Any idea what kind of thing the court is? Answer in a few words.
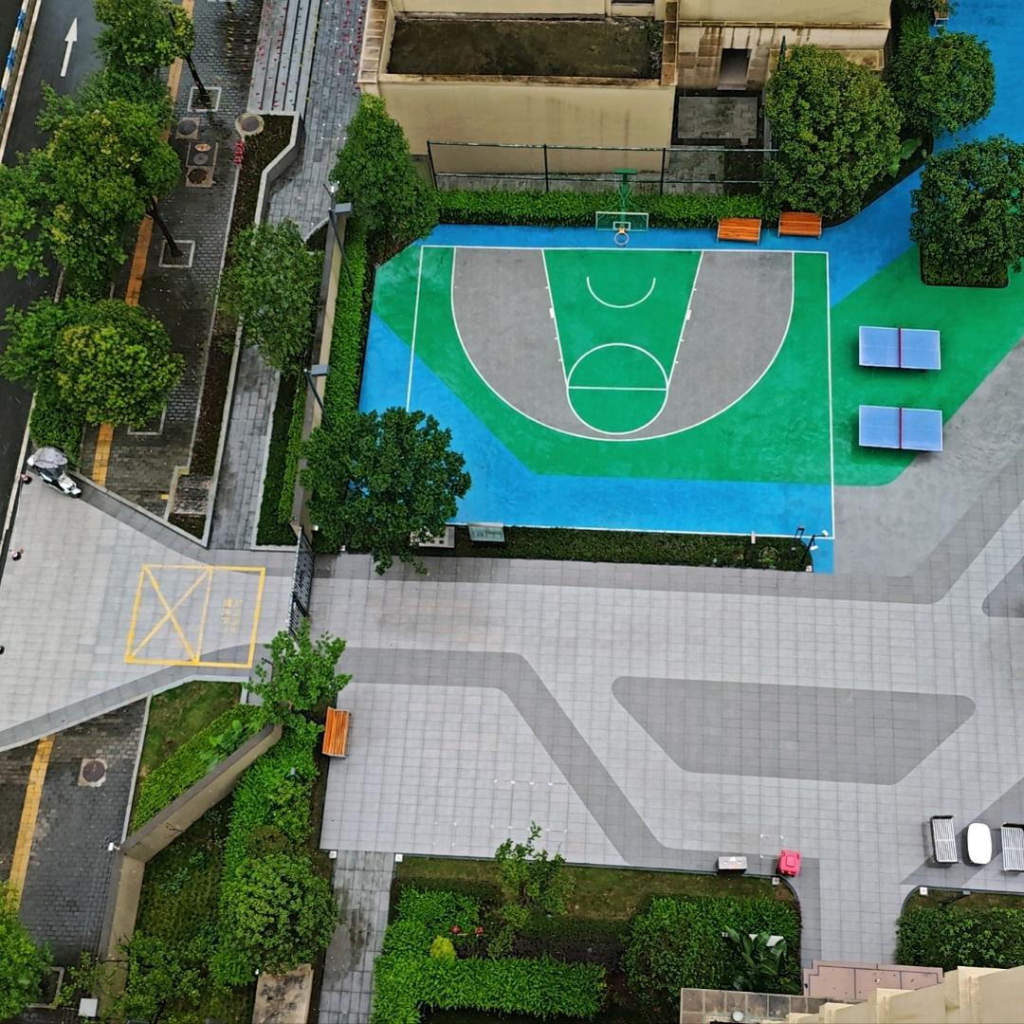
basketball court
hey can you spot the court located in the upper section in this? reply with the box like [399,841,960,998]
[355,225,839,571]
